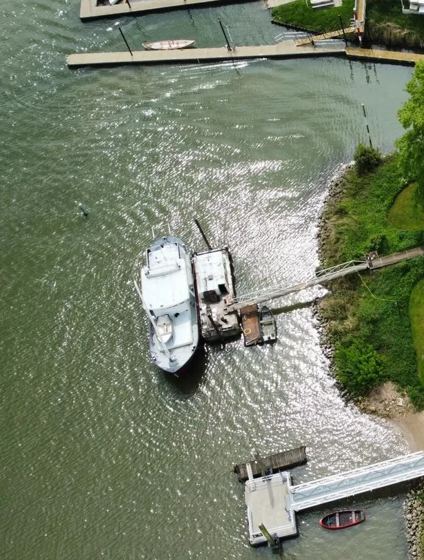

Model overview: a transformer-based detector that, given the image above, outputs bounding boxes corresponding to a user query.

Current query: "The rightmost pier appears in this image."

[347,47,424,65]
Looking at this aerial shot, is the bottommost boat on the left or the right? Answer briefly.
right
